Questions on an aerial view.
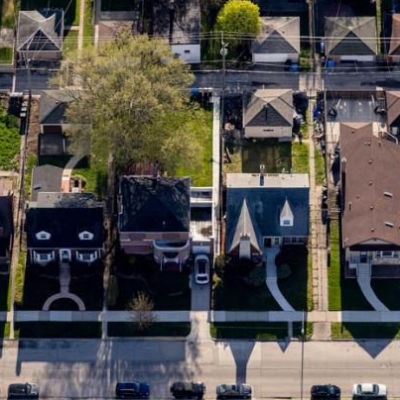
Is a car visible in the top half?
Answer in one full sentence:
No, no car is visible in the top half.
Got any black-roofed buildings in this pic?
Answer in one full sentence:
Yes, you can see a black-roofed building in this photo.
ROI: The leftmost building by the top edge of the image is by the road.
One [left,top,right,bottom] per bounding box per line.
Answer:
[17,11,64,61]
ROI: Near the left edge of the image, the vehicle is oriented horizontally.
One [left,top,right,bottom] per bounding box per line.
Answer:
[6,382,40,398]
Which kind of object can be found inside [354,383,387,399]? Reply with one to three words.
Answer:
car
